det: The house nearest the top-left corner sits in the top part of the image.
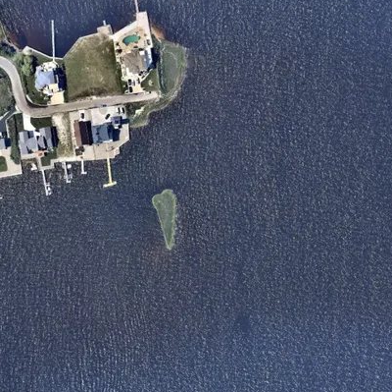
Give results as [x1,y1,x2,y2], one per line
[34,68,59,92]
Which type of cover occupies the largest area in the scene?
water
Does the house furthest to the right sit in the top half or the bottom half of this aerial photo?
top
